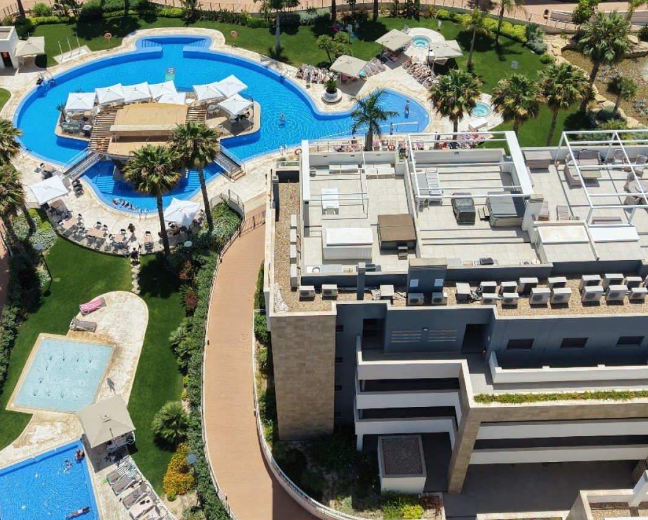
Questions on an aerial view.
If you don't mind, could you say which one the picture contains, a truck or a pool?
pool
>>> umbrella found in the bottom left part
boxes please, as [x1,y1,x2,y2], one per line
[80,397,137,455]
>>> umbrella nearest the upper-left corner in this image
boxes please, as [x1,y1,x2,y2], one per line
[15,44,49,73]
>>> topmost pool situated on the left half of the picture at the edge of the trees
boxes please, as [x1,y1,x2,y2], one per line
[13,36,430,214]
